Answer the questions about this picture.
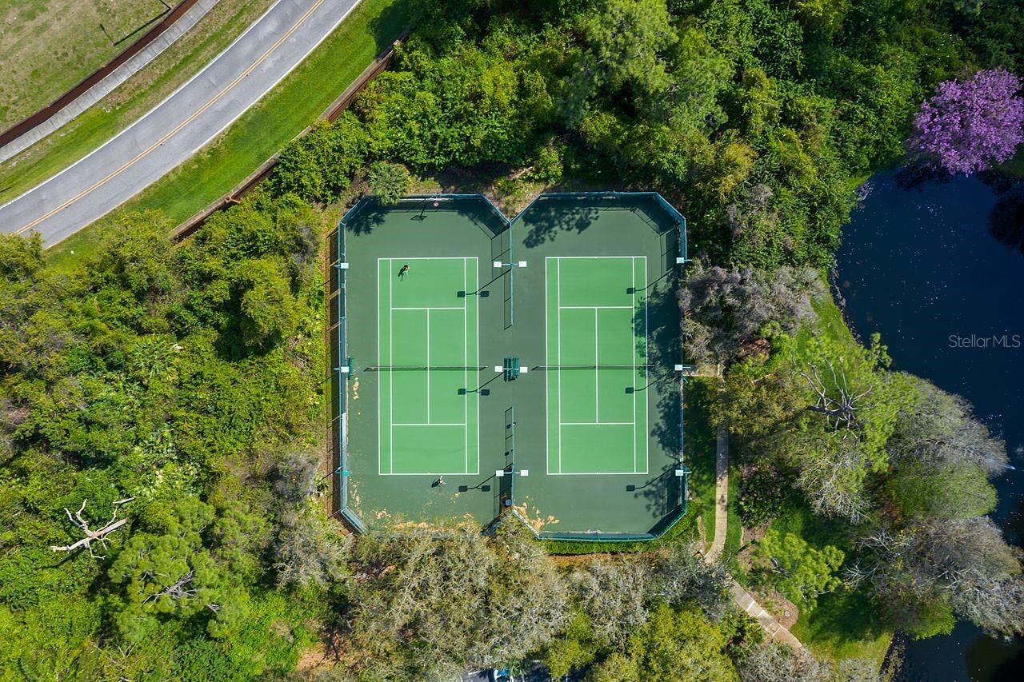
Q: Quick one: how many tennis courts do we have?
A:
2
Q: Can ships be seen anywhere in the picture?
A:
No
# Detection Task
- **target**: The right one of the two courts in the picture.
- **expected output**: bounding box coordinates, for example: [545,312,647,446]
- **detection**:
[510,198,680,534]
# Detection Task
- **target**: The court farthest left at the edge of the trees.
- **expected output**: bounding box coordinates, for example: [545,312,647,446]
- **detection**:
[346,200,512,526]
